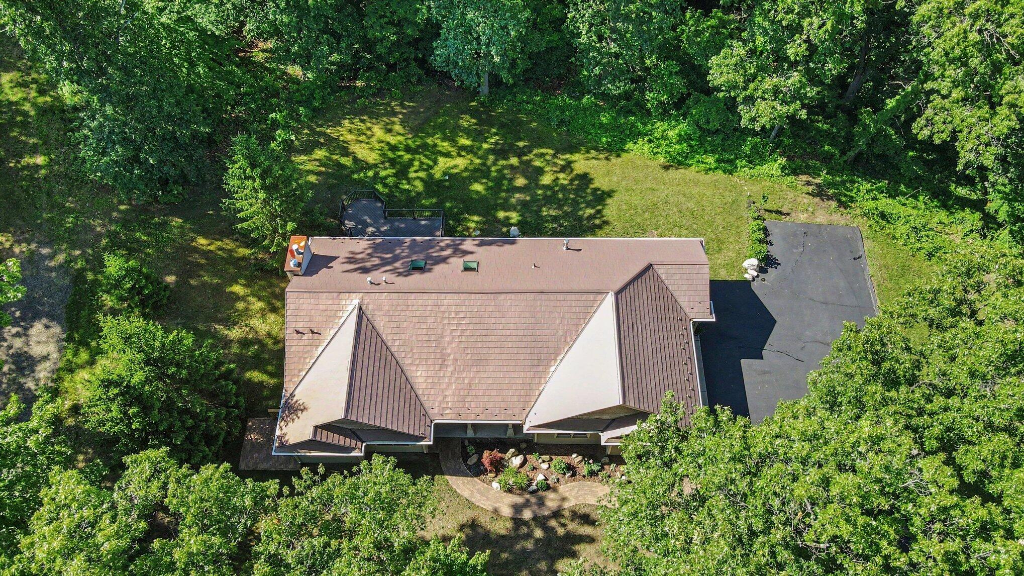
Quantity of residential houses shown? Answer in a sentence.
The photo contains exactly 1 residential house.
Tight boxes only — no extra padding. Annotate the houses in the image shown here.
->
[273,236,717,463]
